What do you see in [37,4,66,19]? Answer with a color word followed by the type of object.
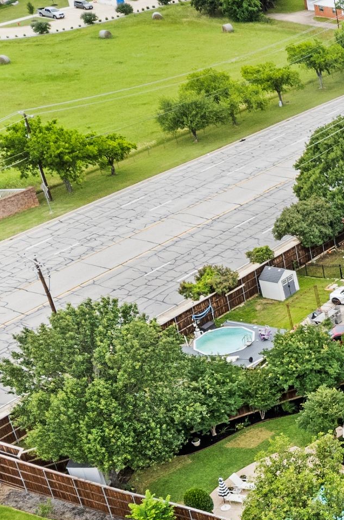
white vehicle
